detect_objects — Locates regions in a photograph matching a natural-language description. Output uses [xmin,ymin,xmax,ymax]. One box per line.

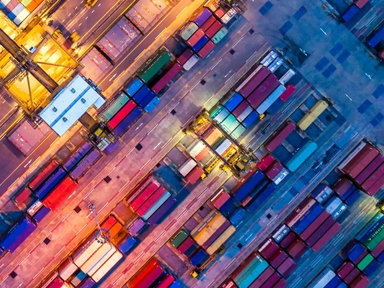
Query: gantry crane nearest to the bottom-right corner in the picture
[183,113,261,183]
